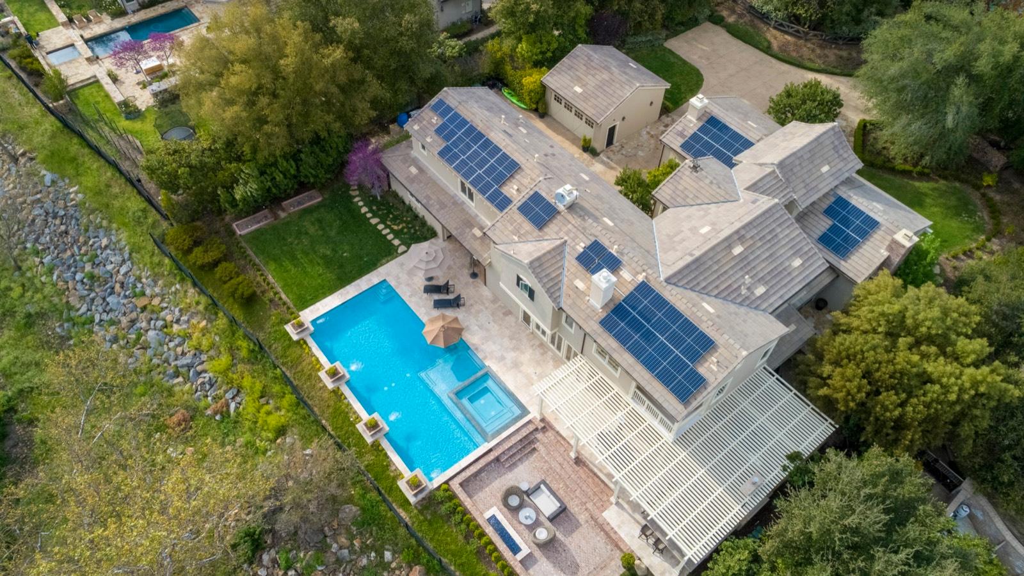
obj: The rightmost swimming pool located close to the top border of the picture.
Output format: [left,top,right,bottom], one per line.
[85,4,204,58]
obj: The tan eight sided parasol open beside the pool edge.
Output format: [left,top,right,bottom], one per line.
[422,317,466,355]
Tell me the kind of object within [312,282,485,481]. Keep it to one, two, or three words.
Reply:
swimming pool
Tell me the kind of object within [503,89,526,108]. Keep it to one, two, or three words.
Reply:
boat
